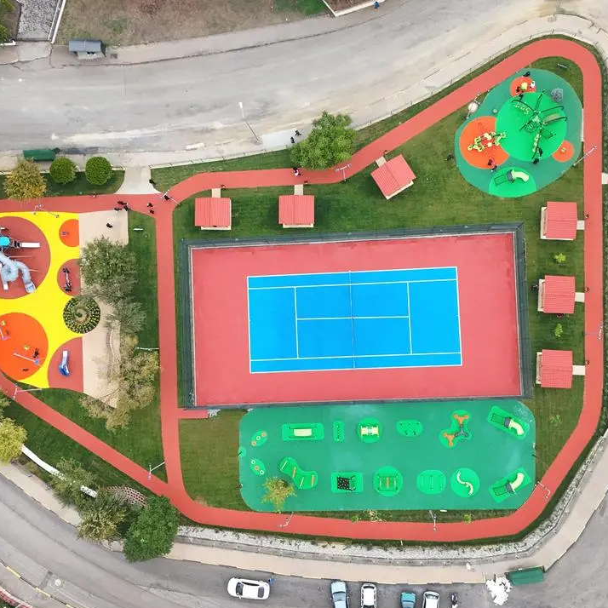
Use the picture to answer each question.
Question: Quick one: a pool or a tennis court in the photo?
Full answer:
Of the two, only a tennis court appears.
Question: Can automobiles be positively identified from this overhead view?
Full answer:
Yes, the photo shows an automobile.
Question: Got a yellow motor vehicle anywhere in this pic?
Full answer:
No, the scene contains no yellow motor vehicle.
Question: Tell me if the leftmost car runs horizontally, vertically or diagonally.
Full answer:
The leftmost car has been laid out horizontally relative to the frame.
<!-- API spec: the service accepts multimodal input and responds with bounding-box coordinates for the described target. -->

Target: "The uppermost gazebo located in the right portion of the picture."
[375,153,422,201]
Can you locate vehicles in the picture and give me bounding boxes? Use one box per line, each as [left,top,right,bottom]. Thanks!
[361,582,377,608]
[399,589,418,608]
[423,590,440,608]
[332,579,351,608]
[228,577,272,599]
